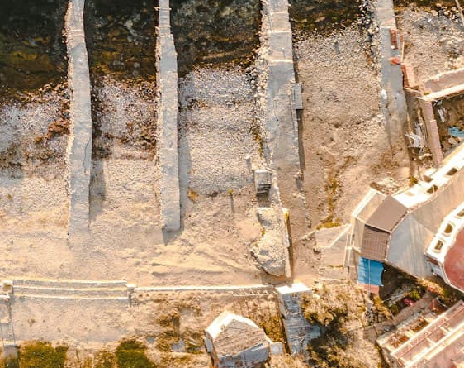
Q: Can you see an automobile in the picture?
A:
No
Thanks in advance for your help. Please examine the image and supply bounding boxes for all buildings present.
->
[369,289,464,368]
[340,121,464,314]
[200,305,283,368]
